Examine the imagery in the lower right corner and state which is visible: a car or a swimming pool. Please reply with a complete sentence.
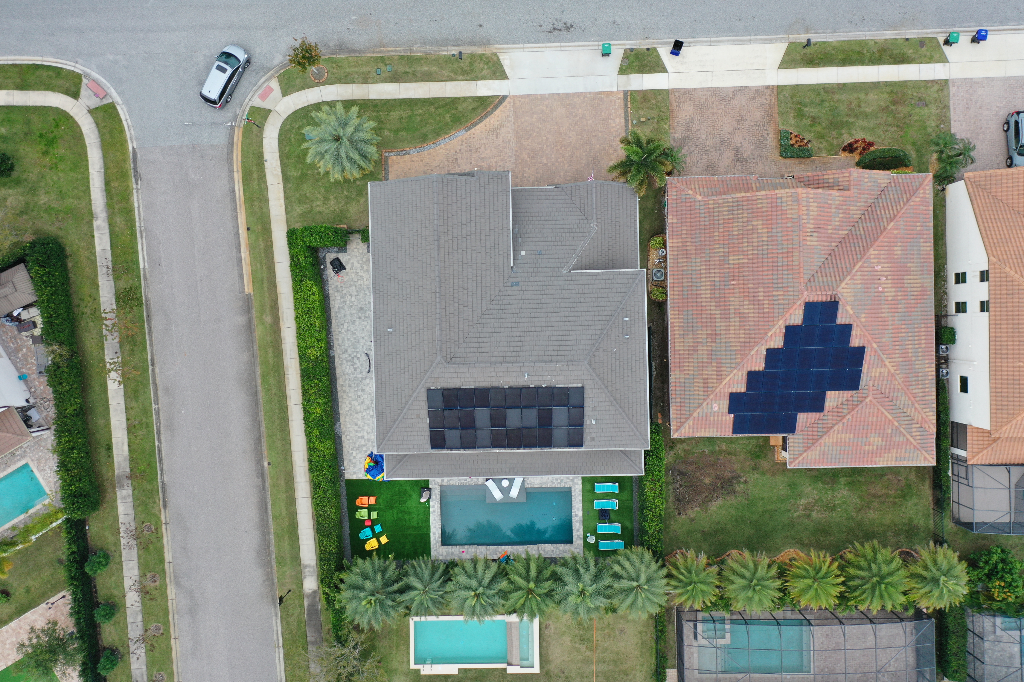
There is a swimming pool in the lower right corner.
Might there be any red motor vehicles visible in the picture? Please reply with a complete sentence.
No, no red motor vehicle is visible in the scene.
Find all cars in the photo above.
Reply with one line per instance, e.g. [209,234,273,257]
[1006,111,1024,169]
[196,40,248,107]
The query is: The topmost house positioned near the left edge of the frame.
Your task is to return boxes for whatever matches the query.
[0,346,35,413]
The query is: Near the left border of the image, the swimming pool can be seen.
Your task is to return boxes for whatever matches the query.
[0,457,52,531]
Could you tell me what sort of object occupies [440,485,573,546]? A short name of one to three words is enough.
swimming pool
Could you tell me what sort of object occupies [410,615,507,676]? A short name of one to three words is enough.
swimming pool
